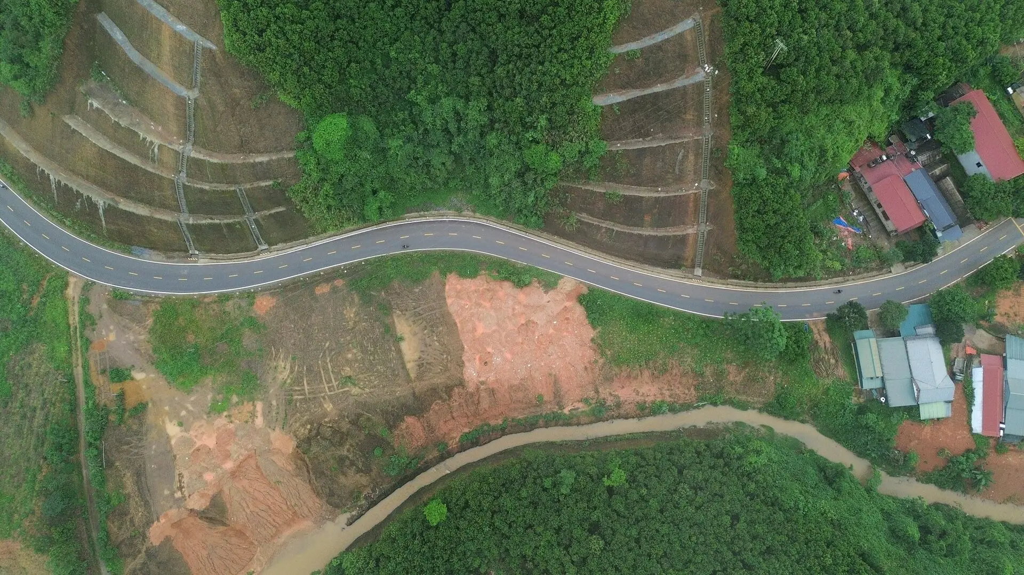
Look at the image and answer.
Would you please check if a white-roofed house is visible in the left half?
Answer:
No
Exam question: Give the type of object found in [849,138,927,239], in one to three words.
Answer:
house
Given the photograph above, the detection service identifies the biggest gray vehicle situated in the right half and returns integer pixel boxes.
[956,356,970,381]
